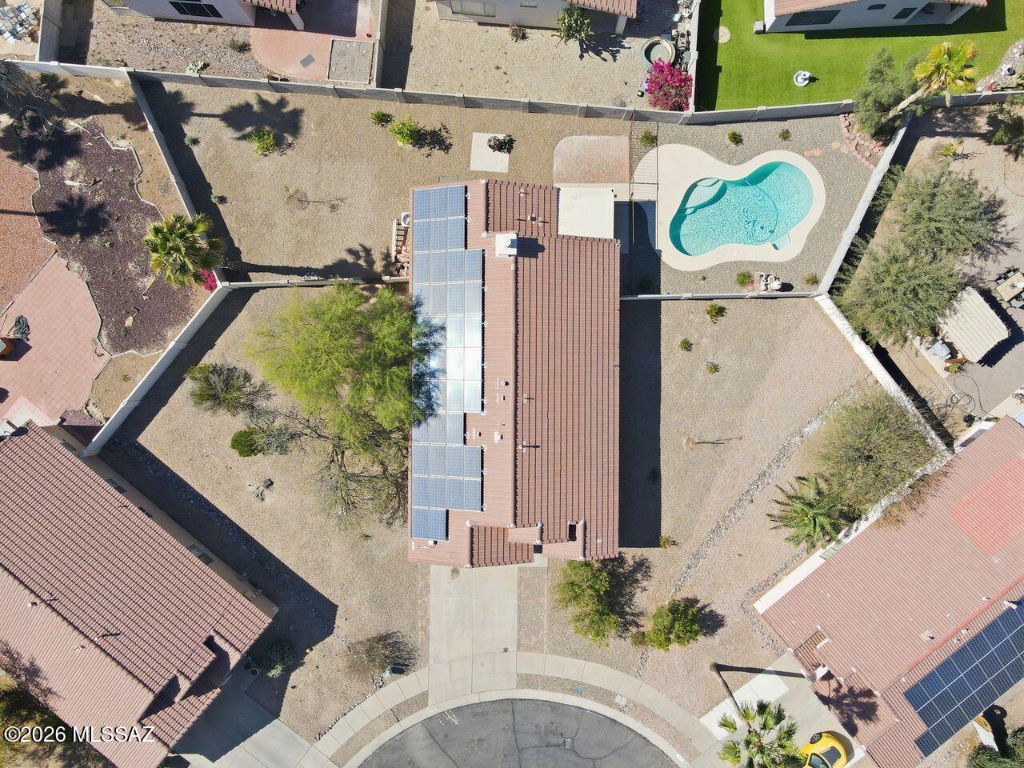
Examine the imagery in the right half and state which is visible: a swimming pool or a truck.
swimming pool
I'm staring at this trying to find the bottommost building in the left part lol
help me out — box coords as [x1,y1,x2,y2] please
[0,430,280,768]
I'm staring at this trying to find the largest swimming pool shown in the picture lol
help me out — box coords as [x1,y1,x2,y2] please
[665,157,819,259]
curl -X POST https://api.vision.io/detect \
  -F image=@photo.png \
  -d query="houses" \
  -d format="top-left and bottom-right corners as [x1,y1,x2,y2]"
[410,178,620,570]
[426,0,643,34]
[766,0,989,32]
[754,420,1024,768]
[0,430,280,768]
[109,0,302,28]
